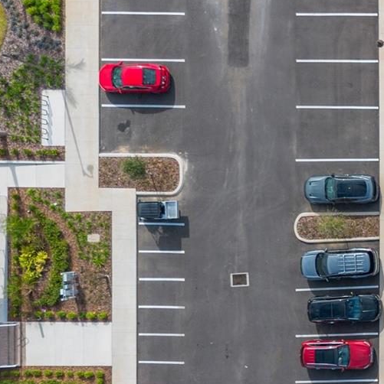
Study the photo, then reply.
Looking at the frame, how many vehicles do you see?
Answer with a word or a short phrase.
six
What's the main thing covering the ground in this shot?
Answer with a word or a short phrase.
paved ground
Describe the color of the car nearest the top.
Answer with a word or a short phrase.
red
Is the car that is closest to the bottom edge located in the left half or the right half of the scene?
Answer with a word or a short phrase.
right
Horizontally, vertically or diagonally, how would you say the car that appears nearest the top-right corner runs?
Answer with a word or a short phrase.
horizontally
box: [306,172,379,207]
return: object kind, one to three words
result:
car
